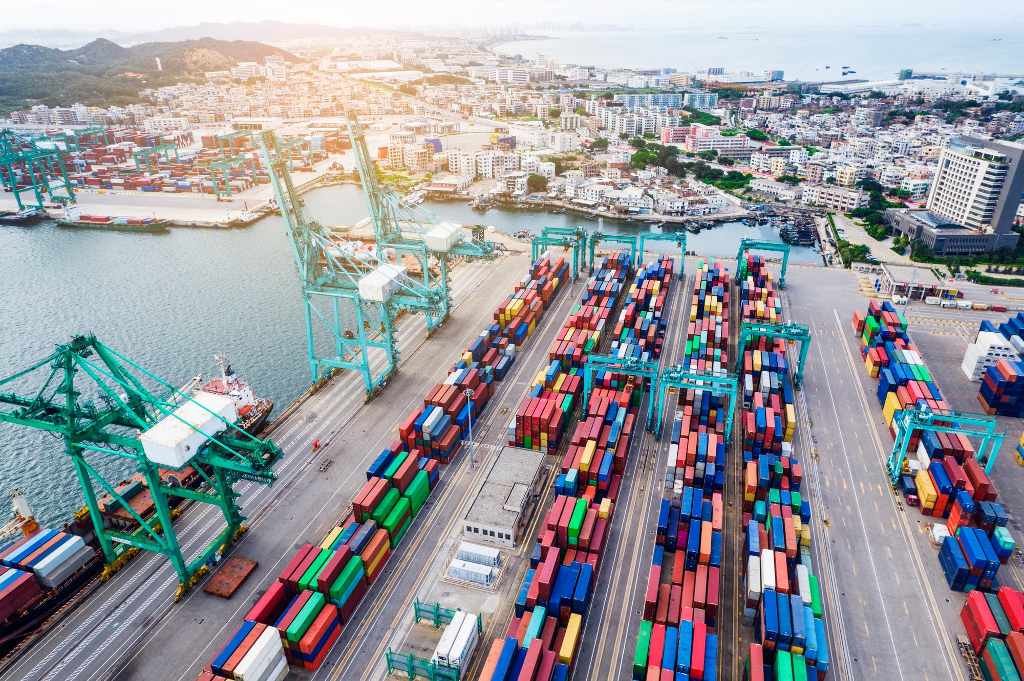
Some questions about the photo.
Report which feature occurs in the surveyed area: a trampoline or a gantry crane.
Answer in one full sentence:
This aerial view contains a gantry crane.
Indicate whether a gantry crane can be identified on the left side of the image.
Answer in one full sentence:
Yes, there is a gantry crane on the left side of the image.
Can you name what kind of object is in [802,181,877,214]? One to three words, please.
building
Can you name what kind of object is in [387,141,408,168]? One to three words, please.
building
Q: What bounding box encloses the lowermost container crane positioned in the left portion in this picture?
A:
[0,317,284,603]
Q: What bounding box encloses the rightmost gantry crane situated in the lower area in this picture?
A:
[883,403,1002,488]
